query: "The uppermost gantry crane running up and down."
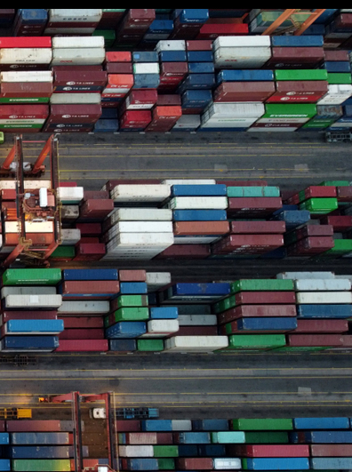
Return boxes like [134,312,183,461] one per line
[0,133,64,270]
